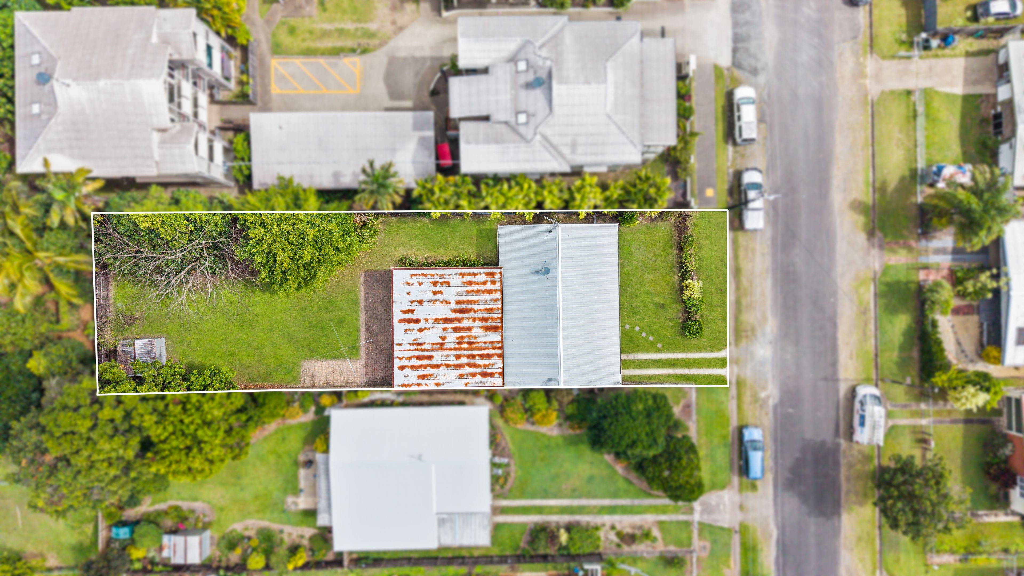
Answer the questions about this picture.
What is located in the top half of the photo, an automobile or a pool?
automobile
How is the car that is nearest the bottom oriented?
vertically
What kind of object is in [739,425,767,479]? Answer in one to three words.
car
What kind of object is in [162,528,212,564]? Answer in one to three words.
shed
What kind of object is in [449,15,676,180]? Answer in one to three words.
house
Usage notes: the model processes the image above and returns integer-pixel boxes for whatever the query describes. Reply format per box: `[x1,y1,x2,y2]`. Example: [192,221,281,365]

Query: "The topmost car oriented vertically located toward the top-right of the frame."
[730,86,759,146]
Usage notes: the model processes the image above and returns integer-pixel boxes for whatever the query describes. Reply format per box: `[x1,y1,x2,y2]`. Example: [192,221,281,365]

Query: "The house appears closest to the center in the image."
[497,223,622,388]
